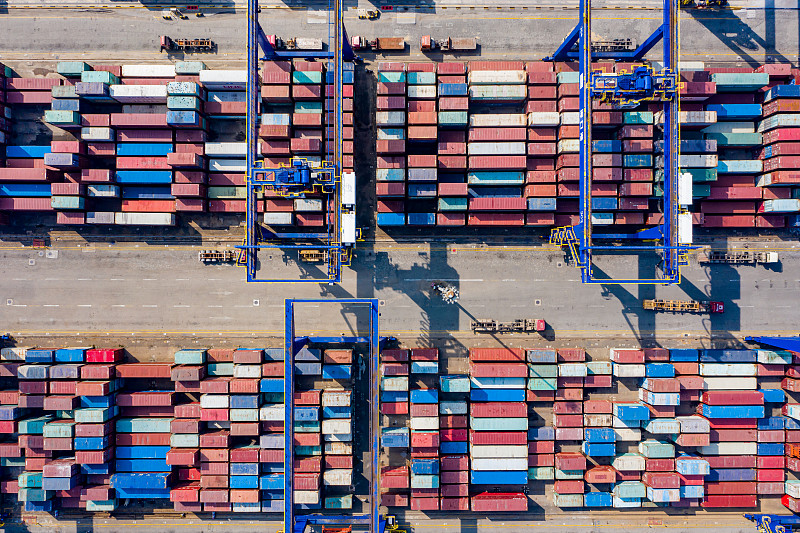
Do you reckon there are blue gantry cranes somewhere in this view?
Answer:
Yes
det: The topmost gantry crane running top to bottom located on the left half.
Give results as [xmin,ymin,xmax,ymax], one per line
[234,0,370,284]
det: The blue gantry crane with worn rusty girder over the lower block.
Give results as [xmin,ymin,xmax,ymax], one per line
[282,299,402,533]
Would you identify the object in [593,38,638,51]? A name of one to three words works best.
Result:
vehicle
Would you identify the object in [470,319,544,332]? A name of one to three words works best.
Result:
vehicle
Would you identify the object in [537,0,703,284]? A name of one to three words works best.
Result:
container crane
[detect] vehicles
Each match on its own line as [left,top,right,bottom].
[642,300,723,313]
[162,35,216,51]
[363,7,378,20]
[420,35,449,51]
[268,35,295,51]
[470,319,544,332]
[297,251,334,262]
[352,35,377,51]
[698,251,777,263]
[198,250,247,263]
[593,38,638,51]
